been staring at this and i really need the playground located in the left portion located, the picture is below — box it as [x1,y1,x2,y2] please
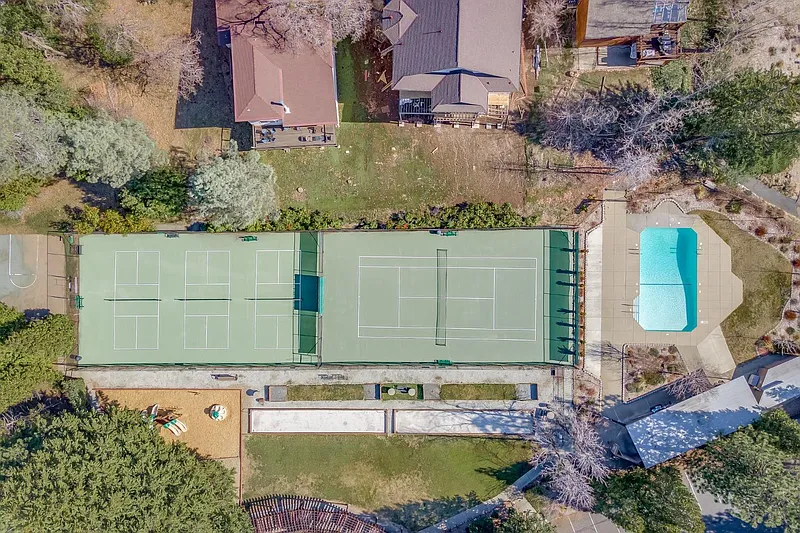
[98,388,241,509]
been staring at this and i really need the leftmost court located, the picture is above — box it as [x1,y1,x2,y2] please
[0,234,66,334]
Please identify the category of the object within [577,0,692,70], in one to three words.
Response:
house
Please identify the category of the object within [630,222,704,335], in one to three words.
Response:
swimming pool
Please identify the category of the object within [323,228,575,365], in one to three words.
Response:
tennis court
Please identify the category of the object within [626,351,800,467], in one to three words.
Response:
building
